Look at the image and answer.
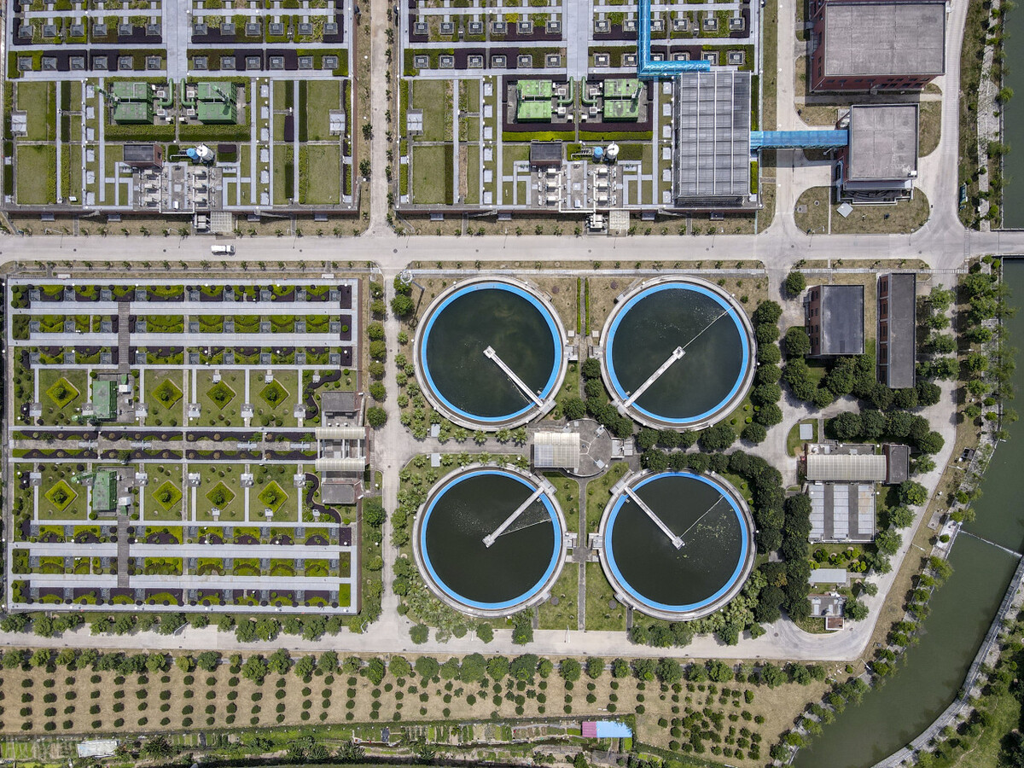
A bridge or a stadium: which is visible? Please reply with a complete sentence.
Looking from above, you can make out a bridge.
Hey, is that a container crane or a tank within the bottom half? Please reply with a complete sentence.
The one visible within the bottom half is a tank.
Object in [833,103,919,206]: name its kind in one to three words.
building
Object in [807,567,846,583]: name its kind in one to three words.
shed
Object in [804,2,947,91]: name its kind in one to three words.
building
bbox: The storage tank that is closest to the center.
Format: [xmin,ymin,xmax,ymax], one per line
[414,275,569,430]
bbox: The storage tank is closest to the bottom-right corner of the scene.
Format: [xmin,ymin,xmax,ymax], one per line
[599,464,755,620]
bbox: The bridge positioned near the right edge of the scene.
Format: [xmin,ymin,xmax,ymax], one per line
[989,229,1024,256]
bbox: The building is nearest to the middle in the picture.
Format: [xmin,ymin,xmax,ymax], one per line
[531,417,633,479]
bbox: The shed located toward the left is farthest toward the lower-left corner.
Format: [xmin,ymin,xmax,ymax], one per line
[77,736,121,756]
